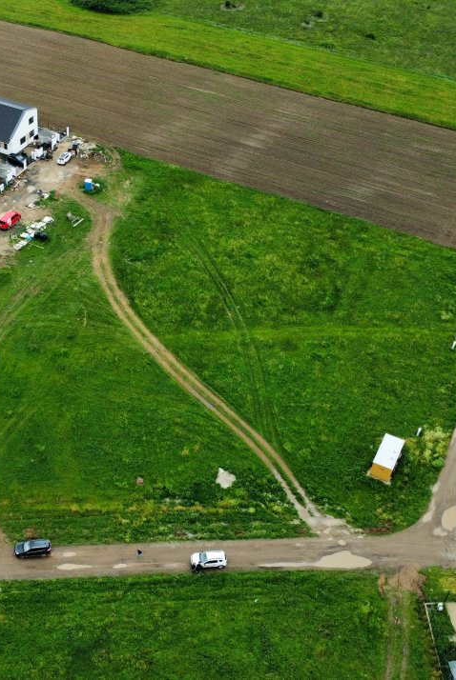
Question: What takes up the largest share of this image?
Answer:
grass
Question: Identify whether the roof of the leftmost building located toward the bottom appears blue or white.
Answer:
white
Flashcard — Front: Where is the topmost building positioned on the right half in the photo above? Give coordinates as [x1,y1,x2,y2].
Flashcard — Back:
[371,436,404,484]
